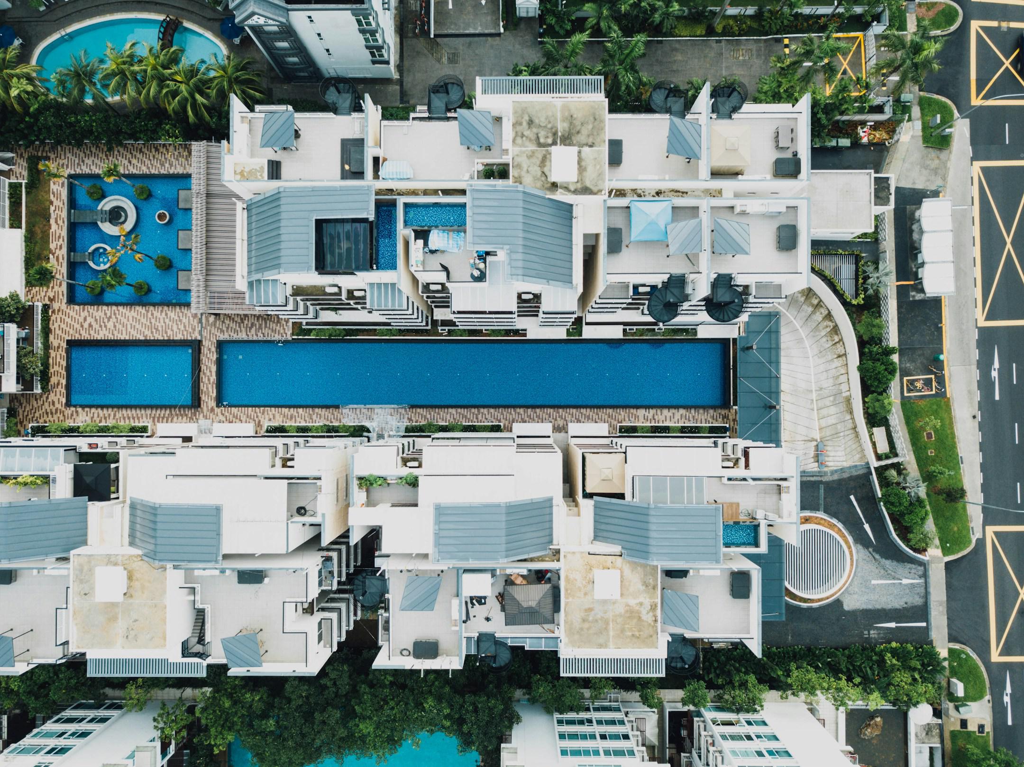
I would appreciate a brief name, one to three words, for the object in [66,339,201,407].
swimming pool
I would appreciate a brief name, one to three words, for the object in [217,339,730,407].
swimming pool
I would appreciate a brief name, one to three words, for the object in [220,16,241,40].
umbrella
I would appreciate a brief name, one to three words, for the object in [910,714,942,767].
shed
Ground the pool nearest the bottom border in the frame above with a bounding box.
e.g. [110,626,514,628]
[223,729,485,767]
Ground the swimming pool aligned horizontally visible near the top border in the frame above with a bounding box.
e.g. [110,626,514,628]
[31,13,229,98]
